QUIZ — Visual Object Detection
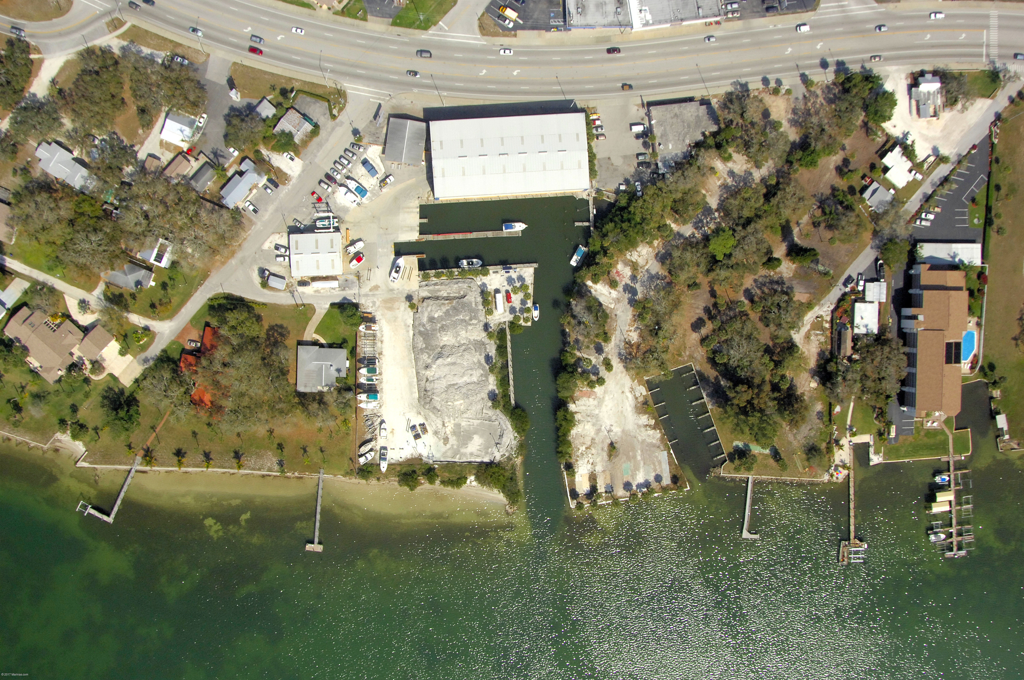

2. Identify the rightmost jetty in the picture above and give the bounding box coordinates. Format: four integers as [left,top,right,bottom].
[926,422,974,557]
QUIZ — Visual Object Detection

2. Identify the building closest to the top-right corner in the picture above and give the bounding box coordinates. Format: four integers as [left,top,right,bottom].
[909,73,942,119]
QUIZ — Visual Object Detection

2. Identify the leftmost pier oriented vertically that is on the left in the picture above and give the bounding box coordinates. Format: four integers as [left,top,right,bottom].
[306,469,324,552]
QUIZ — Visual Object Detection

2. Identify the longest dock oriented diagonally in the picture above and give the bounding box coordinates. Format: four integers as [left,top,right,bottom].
[87,456,142,523]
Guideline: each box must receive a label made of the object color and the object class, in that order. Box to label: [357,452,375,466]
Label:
white boat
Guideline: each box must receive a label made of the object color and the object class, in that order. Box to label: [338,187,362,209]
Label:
white boat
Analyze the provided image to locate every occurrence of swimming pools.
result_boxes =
[965,329,977,362]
